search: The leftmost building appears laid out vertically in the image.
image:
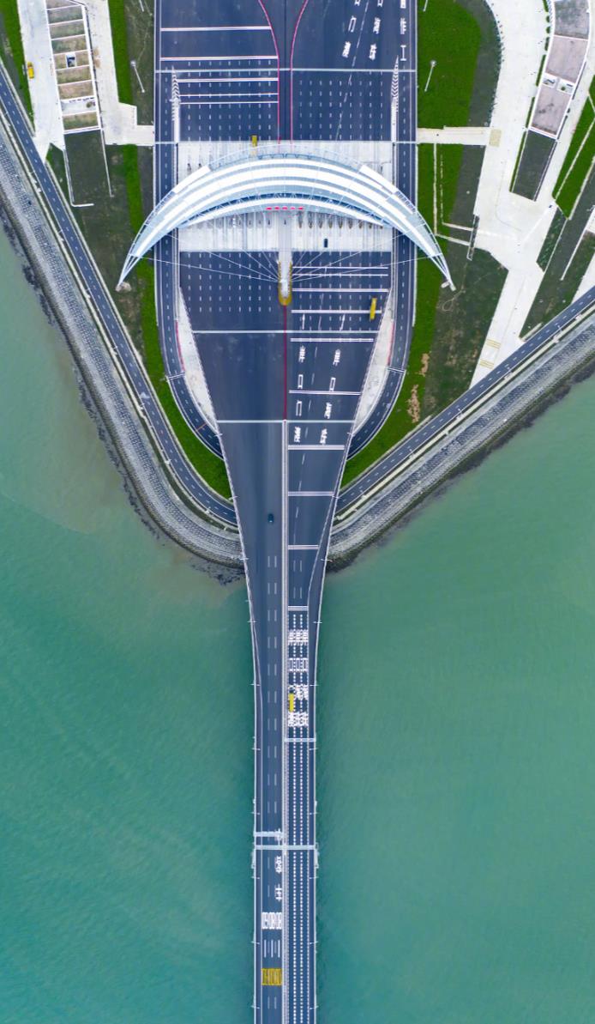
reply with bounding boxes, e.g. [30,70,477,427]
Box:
[44,0,103,137]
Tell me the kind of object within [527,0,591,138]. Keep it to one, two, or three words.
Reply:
building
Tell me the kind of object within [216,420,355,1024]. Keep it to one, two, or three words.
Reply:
bridge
